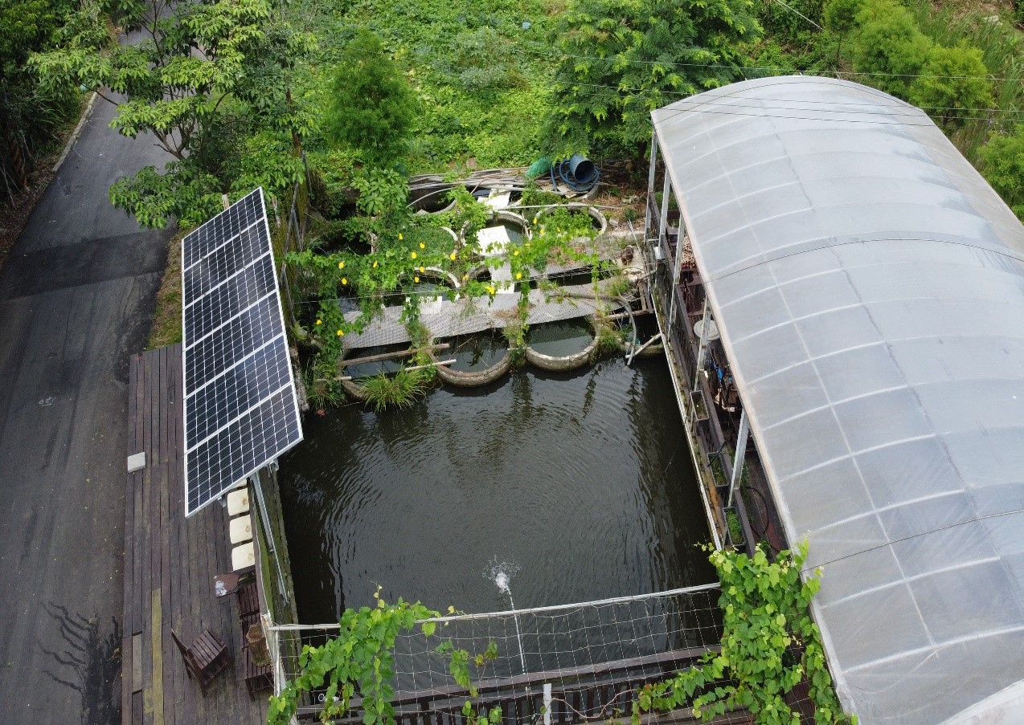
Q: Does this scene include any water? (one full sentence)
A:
Yes, water can be seen from above here.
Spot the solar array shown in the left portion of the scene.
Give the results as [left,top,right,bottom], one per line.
[181,188,305,605]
